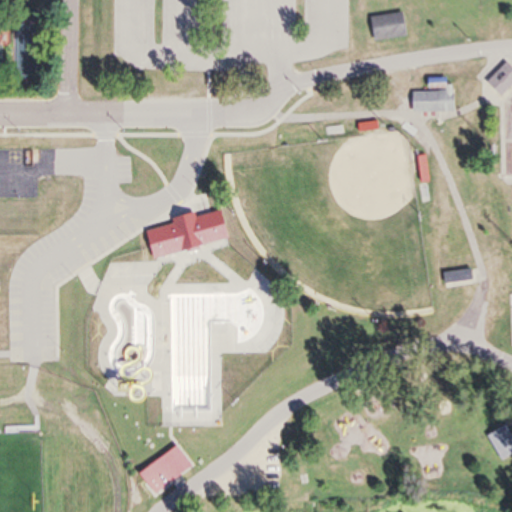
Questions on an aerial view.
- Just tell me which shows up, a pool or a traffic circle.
pool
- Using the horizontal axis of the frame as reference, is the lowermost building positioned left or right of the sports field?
right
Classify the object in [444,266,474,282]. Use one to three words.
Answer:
shed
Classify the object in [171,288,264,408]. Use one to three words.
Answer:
swimming pool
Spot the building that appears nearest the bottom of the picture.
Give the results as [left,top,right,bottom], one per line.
[140,447,191,495]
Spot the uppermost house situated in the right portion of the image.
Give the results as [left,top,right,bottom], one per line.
[372,10,408,40]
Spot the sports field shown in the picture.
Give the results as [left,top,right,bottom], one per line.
[0,434,42,512]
